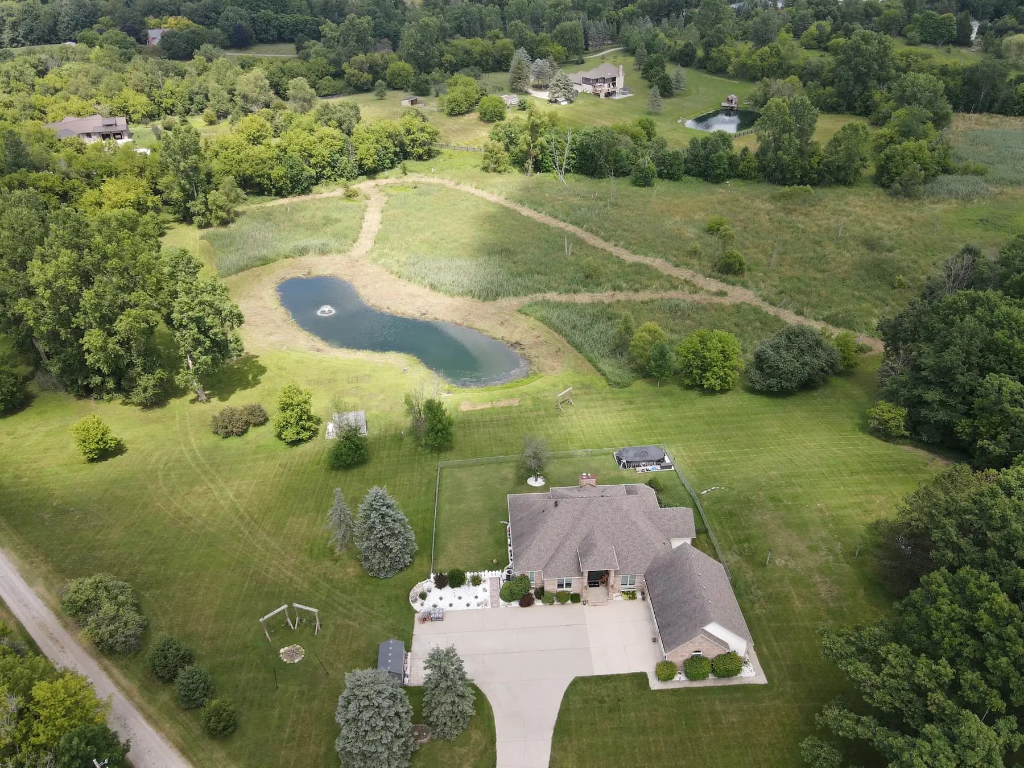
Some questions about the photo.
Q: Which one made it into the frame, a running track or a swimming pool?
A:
swimming pool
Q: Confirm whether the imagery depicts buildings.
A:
Yes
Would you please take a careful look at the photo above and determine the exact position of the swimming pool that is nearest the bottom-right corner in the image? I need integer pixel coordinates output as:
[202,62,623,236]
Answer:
[619,445,665,471]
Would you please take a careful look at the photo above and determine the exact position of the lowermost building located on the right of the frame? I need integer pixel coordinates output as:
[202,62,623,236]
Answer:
[507,470,754,673]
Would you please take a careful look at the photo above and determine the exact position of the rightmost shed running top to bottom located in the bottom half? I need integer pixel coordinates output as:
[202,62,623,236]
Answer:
[371,618,405,685]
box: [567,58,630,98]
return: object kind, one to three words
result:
house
